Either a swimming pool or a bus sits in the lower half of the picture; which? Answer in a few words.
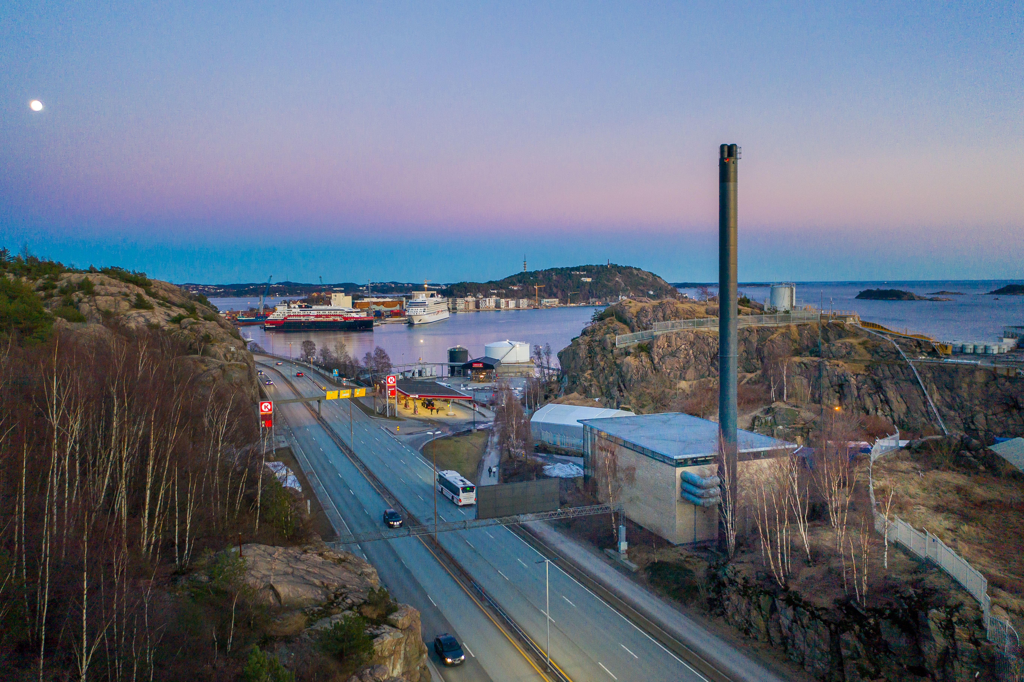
bus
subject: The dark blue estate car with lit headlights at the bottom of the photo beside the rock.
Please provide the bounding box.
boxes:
[434,631,467,664]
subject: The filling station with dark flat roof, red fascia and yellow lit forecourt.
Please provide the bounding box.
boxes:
[368,380,472,412]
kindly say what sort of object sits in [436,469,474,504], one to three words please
bus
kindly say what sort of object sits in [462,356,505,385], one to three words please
shed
